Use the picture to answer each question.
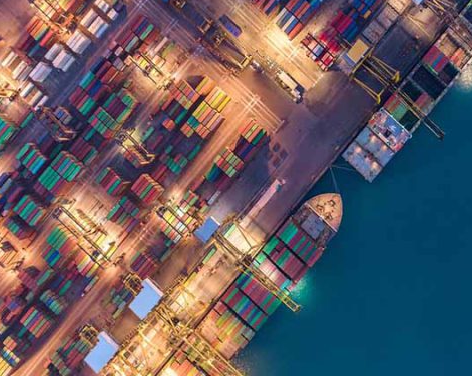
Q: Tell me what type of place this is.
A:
port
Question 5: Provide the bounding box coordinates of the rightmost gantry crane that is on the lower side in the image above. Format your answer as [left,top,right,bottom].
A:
[192,206,304,309]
